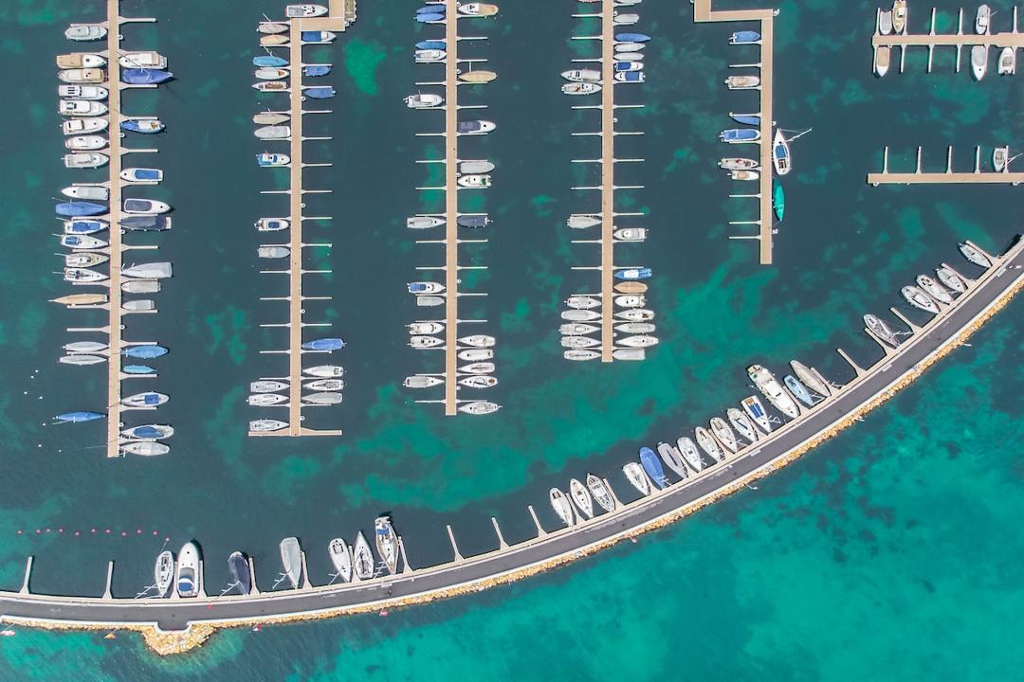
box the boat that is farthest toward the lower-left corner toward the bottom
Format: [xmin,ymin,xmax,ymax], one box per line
[138,550,175,598]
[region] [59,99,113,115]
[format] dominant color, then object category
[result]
white boat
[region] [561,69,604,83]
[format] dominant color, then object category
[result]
white boat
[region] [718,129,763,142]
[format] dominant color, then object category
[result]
blue boat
